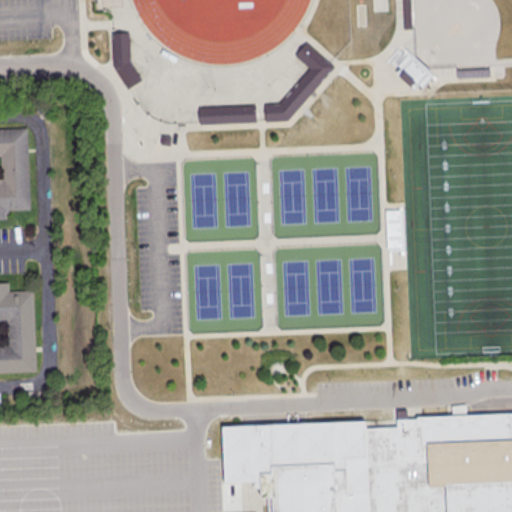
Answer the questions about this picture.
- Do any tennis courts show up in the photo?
Yes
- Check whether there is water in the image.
No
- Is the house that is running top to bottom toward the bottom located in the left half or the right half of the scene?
left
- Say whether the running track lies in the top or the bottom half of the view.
top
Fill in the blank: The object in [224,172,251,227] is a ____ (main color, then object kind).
blue tennis court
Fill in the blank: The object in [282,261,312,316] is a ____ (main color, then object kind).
blue tennis court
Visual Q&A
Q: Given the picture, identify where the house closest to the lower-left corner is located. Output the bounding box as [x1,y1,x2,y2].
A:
[0,284,37,374]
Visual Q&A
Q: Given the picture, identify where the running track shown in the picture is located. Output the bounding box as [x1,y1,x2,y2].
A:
[132,0,311,65]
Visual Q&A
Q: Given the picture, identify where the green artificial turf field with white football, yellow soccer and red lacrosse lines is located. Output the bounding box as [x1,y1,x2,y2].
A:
[402,96,512,358]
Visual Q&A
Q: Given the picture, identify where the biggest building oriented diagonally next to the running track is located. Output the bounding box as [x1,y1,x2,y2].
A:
[264,42,334,121]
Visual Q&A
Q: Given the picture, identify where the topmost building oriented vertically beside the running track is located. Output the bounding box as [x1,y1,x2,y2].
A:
[113,32,141,87]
